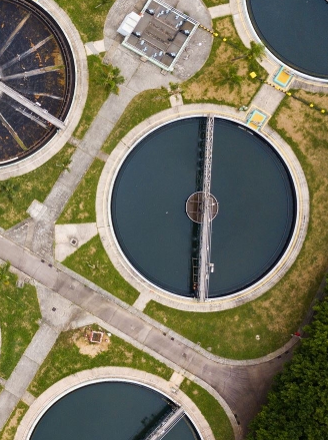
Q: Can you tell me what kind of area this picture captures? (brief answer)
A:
industrial area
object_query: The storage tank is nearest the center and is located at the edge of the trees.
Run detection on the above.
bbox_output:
[97,102,307,312]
